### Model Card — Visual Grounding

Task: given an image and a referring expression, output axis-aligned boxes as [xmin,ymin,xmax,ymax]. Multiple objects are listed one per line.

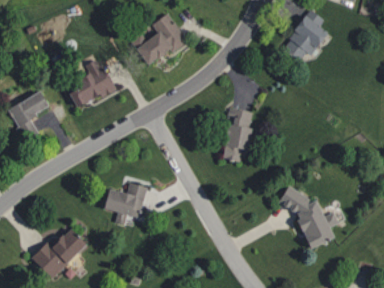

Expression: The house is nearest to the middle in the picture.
[223,107,253,162]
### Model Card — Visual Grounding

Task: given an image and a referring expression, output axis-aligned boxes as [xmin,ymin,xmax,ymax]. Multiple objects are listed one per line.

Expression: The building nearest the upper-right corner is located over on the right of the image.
[286,10,330,58]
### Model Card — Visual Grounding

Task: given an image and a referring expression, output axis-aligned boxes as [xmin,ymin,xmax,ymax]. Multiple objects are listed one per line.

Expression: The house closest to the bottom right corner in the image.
[280,186,335,247]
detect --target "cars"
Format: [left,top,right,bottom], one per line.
[272,208,282,218]
[343,0,355,8]
[116,117,126,124]
[154,201,165,208]
[183,10,192,20]
[178,12,186,22]
[104,124,114,132]
[91,132,102,139]
[166,196,176,204]
[166,88,177,96]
